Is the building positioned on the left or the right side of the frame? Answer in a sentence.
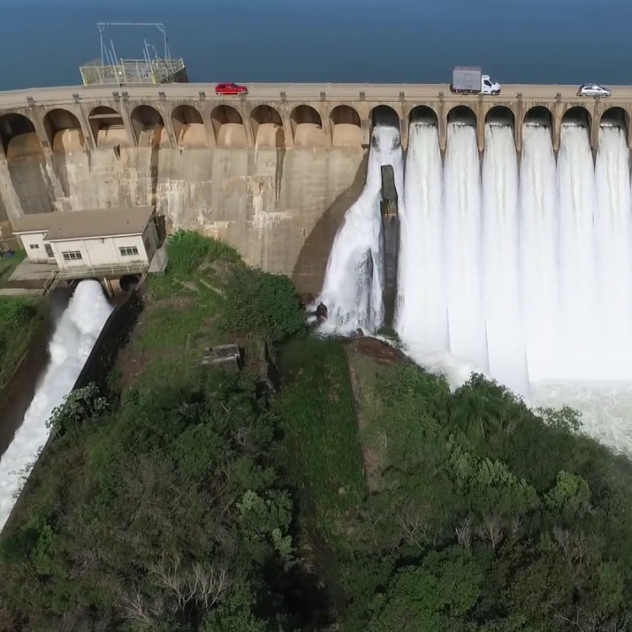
It is on the left.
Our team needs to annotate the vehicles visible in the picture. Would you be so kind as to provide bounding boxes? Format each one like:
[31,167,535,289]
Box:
[215,80,251,95]
[452,67,502,97]
[575,82,610,98]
